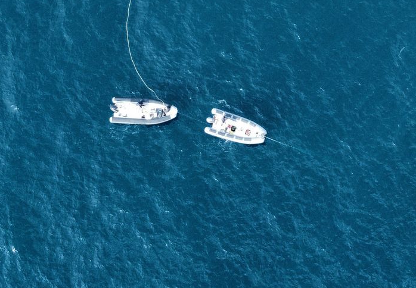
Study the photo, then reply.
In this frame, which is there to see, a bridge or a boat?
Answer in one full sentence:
Visible in the photo is a boat.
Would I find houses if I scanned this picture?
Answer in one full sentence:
No, no house can be seen from above.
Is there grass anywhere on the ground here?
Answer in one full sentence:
No, there's no grass in this view.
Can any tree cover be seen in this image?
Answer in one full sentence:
No, there's no tree cover in this view.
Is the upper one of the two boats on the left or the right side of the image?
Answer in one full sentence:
The upper one of the two boats sits on the left side.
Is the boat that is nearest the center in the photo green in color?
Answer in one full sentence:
No, the color of the boat that is nearest the center is white.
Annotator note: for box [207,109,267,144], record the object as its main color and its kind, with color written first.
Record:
white boat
